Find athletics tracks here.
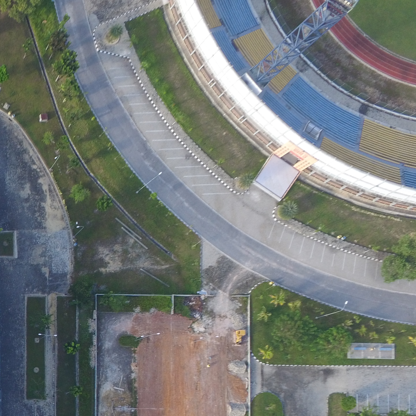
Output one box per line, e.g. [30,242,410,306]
[307,0,416,88]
